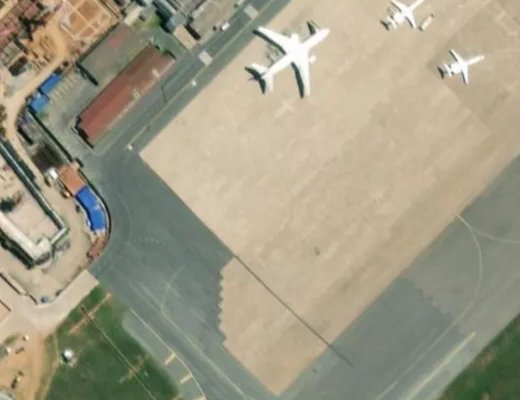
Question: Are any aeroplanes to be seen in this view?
Yes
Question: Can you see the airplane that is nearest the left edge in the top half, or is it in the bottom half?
top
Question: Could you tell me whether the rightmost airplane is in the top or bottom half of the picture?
top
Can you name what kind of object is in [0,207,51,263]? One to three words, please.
building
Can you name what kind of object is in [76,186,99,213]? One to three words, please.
shed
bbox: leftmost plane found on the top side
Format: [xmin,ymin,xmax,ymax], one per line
[250,26,329,98]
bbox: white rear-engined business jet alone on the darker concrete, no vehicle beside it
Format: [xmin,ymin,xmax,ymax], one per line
[446,49,483,83]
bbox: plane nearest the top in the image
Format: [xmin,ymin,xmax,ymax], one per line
[391,0,424,29]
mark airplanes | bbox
[391,0,424,29]
[250,26,329,98]
[446,49,483,83]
